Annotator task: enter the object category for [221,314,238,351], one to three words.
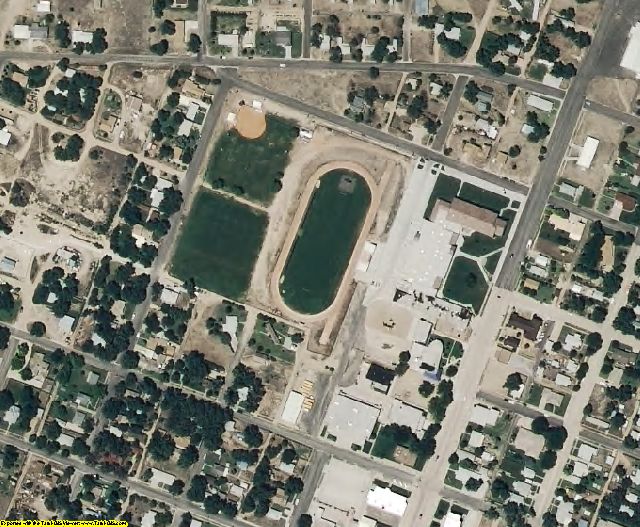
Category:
house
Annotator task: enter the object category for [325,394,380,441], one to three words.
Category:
building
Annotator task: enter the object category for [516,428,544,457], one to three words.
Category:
building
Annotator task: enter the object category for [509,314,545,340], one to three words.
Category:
house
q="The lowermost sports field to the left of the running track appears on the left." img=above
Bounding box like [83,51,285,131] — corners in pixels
[171,189,266,299]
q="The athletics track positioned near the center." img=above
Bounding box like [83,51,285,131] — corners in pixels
[271,159,379,344]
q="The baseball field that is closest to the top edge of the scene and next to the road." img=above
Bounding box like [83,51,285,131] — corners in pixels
[204,106,300,207]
